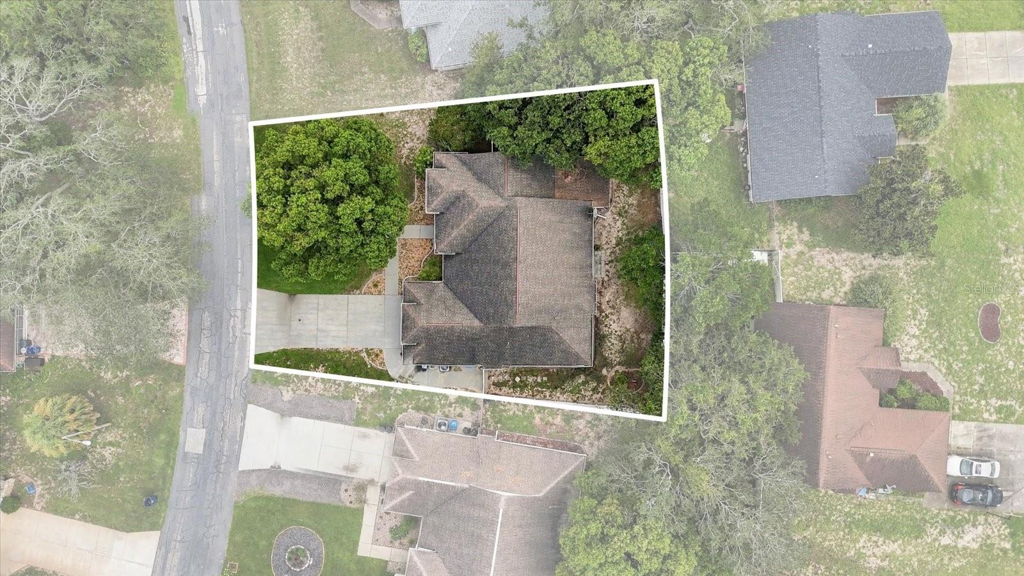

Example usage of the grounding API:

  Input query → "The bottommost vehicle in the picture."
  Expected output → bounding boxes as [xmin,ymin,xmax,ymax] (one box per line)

[953,484,1008,511]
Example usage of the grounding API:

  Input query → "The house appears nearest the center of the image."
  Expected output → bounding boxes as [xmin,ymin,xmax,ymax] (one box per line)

[400,150,611,370]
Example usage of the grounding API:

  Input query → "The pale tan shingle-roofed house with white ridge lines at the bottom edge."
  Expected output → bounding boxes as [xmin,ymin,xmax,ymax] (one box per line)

[384,425,587,576]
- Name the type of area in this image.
residential area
